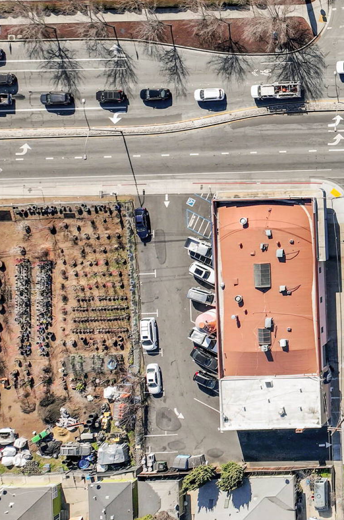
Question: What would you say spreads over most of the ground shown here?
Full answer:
The largest share of the image is taken up by paved ground.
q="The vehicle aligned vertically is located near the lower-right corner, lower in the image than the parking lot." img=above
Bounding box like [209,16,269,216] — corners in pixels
[313,477,329,508]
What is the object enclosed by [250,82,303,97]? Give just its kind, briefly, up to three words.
vehicle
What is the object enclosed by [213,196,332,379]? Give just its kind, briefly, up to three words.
building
